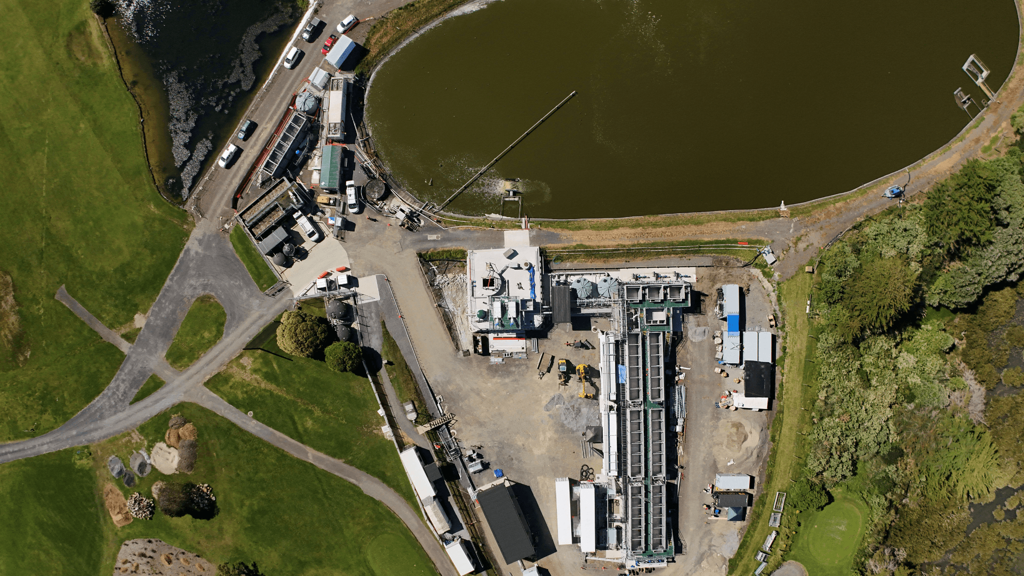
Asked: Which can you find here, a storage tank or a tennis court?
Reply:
storage tank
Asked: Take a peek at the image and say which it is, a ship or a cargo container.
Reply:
cargo container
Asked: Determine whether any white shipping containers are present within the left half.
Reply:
Yes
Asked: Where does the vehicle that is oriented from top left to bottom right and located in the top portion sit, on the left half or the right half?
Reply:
left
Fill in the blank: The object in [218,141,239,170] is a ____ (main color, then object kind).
white truck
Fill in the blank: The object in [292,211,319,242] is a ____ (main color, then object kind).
white vehicle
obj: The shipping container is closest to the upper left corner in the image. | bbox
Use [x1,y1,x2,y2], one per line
[326,34,355,69]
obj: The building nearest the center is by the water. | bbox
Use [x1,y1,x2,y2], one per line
[388,198,423,237]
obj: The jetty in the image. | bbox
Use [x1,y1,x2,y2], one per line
[961,55,999,99]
